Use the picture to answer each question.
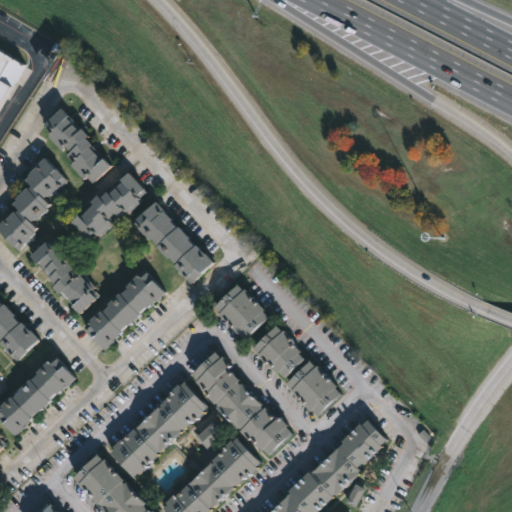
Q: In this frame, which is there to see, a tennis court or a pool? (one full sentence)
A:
It is a pool that can be seen here.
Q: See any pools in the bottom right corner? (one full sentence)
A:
No, looking in the bottom right corner, there is no pool.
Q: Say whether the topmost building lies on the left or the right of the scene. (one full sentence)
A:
The topmost building sits on the left side.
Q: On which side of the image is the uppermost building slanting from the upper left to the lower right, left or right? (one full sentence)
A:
The uppermost building slanting from the upper left to the lower right is on the left side of the image.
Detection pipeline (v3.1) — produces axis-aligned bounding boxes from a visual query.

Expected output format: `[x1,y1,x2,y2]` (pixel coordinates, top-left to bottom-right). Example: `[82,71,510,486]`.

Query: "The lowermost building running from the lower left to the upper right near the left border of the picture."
[0,358,78,436]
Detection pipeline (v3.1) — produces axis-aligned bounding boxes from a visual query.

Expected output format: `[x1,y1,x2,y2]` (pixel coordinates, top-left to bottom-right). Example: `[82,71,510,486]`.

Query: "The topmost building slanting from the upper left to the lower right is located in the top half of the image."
[48,110,115,184]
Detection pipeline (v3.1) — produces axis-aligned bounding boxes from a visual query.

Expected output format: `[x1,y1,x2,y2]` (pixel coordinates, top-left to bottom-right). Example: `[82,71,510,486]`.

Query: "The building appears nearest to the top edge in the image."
[0,50,30,108]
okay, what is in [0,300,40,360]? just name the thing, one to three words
building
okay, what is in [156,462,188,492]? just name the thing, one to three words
swimming pool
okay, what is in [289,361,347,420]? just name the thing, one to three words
building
